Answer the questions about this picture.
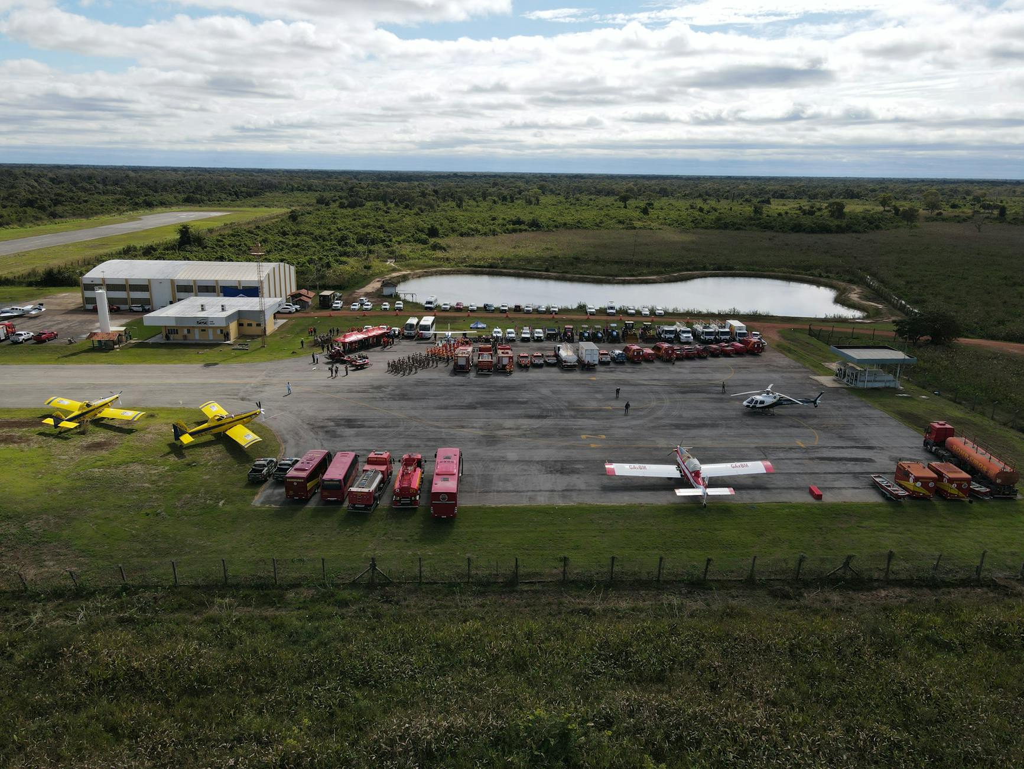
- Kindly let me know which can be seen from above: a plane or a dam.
plane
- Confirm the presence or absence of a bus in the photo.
Yes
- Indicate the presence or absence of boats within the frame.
Yes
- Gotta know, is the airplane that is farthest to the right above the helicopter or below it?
below it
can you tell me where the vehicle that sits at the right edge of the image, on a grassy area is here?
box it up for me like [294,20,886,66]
[920,422,1017,492]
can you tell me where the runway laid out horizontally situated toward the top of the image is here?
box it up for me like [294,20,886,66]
[0,212,227,256]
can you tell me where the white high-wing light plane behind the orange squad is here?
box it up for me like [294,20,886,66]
[422,325,480,344]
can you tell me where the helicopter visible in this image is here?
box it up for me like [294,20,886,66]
[727,386,830,417]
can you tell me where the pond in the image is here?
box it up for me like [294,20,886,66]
[398,275,864,318]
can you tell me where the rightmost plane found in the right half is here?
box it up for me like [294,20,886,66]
[602,439,772,506]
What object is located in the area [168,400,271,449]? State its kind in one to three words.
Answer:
airplane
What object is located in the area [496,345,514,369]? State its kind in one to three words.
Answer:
vehicle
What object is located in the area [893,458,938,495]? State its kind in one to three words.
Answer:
trailer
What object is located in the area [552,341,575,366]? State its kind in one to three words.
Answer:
truck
